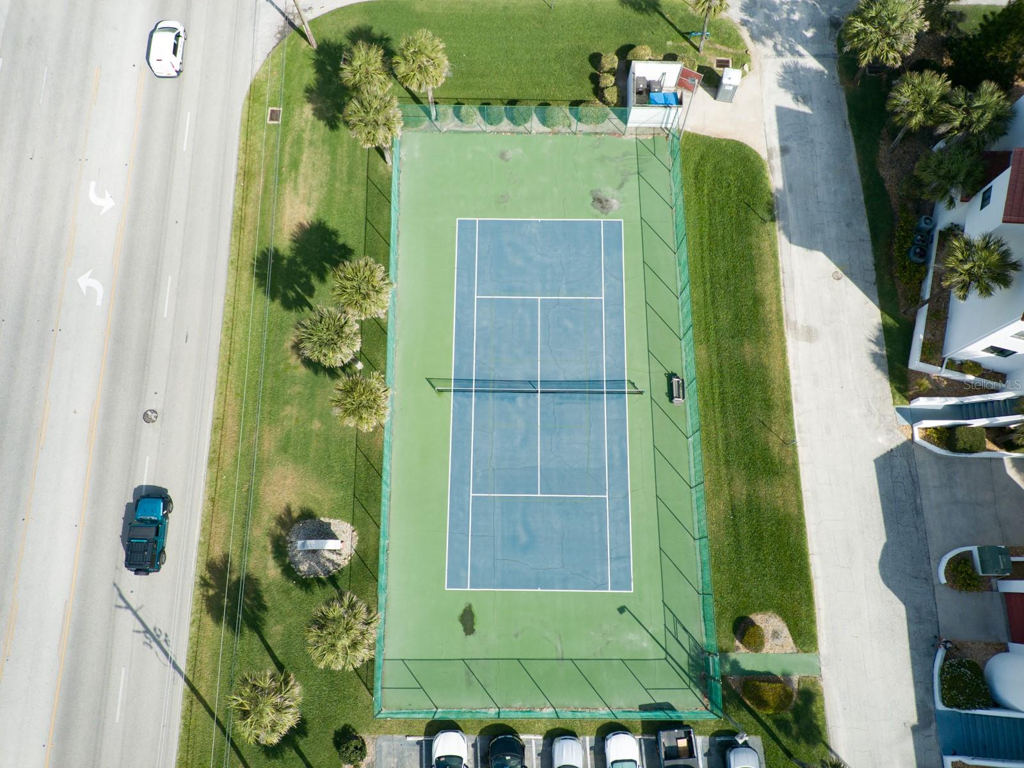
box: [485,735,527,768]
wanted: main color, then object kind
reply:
black car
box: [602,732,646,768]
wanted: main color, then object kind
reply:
white car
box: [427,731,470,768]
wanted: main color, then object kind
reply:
white car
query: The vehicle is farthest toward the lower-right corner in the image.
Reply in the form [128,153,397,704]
[724,742,762,768]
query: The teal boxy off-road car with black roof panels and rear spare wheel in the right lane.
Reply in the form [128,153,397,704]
[119,497,170,576]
